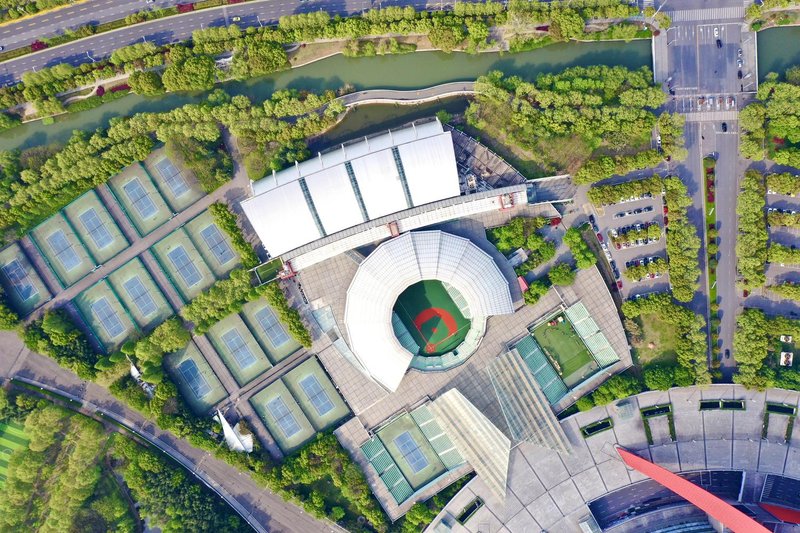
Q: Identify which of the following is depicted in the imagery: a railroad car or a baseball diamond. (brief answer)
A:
baseball diamond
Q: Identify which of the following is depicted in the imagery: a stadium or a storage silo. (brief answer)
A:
stadium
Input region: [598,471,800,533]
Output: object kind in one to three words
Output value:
stadium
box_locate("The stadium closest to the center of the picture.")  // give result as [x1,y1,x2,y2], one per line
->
[344,231,514,392]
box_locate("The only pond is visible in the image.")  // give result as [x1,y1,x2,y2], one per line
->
[291,92,473,164]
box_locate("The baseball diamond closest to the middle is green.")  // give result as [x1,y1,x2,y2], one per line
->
[393,281,470,356]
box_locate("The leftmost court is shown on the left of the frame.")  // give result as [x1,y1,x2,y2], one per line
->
[0,245,50,318]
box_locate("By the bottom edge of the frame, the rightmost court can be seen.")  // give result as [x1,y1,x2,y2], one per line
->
[362,403,470,510]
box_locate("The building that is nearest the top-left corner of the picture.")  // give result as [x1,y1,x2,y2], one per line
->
[238,116,462,258]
